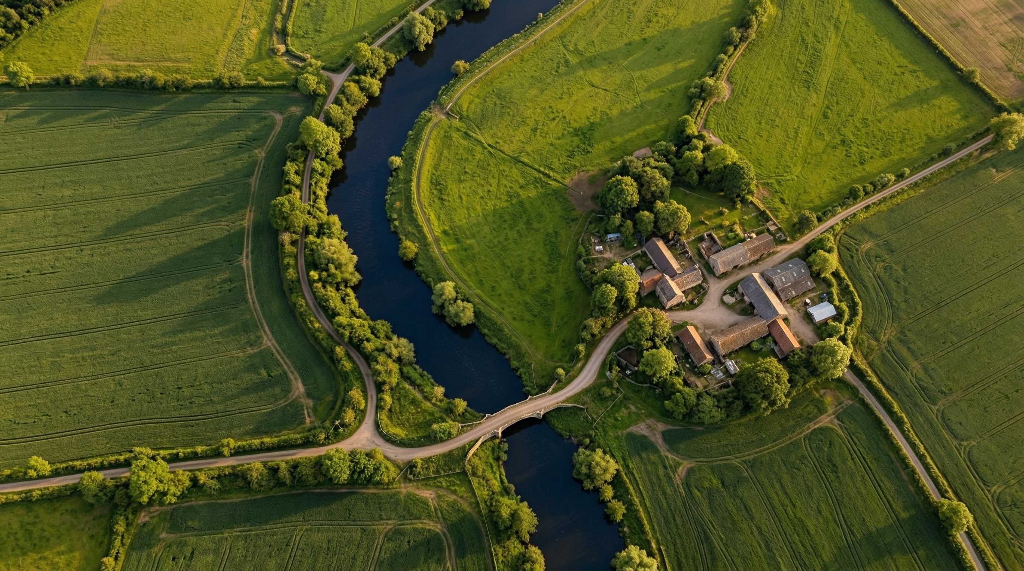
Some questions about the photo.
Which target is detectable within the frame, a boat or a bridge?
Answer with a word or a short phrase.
bridge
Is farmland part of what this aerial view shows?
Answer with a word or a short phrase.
Yes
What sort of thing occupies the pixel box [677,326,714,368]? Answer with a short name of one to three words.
shed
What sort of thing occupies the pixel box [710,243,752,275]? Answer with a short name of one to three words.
barn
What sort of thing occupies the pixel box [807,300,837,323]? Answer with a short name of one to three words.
shed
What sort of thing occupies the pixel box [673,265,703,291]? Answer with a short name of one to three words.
house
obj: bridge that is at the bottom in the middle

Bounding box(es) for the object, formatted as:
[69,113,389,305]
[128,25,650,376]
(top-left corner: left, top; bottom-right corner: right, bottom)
[461,392,584,472]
